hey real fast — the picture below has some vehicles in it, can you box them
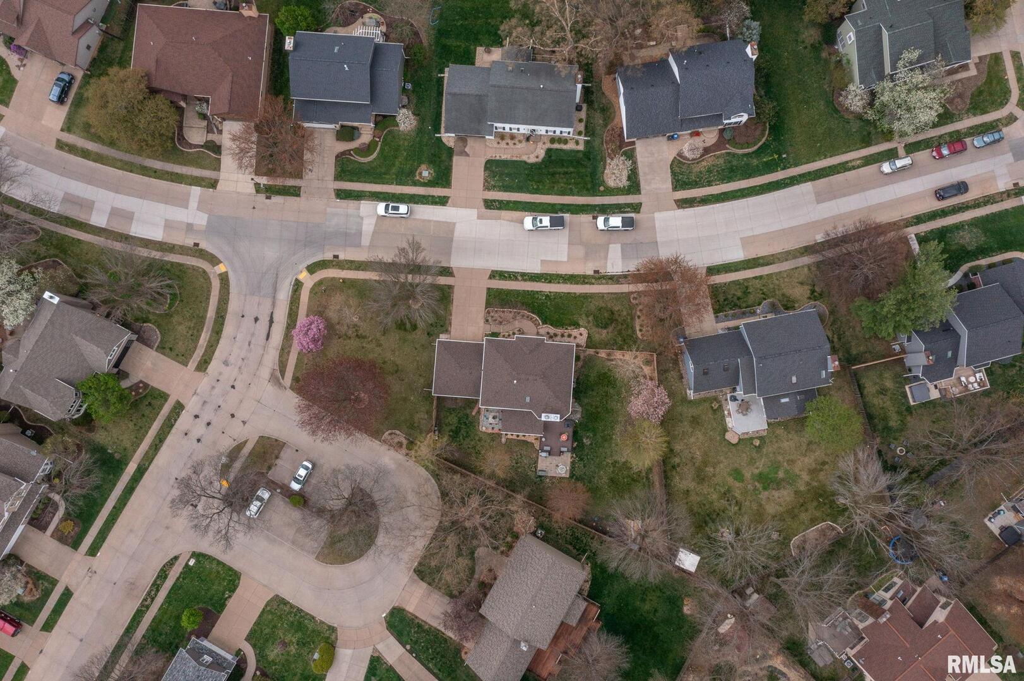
[878,155,912,175]
[379,202,410,218]
[929,139,966,161]
[596,215,635,231]
[932,181,967,202]
[291,459,313,491]
[524,215,564,231]
[969,129,1004,150]
[47,72,74,105]
[0,609,23,636]
[247,487,271,519]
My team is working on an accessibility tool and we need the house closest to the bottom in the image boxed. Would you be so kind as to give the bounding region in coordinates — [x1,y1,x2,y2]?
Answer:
[161,633,241,681]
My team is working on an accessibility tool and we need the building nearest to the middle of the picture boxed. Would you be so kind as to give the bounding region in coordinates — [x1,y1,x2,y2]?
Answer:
[427,335,578,436]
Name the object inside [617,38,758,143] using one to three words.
house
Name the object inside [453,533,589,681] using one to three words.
house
